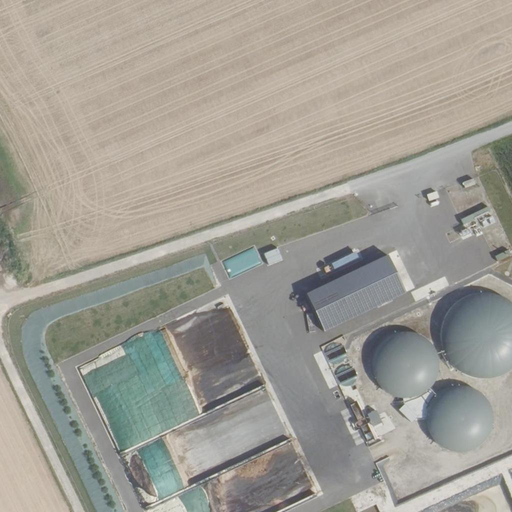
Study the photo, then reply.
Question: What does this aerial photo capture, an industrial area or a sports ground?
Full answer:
This looks like an industrial area.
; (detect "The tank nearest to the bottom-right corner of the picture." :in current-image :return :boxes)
[426,385,494,453]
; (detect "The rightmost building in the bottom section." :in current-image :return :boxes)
[400,390,432,422]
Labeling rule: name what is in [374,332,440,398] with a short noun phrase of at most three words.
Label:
storage tank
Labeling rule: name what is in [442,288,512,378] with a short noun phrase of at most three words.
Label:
storage tank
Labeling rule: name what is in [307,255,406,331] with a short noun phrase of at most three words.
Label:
building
